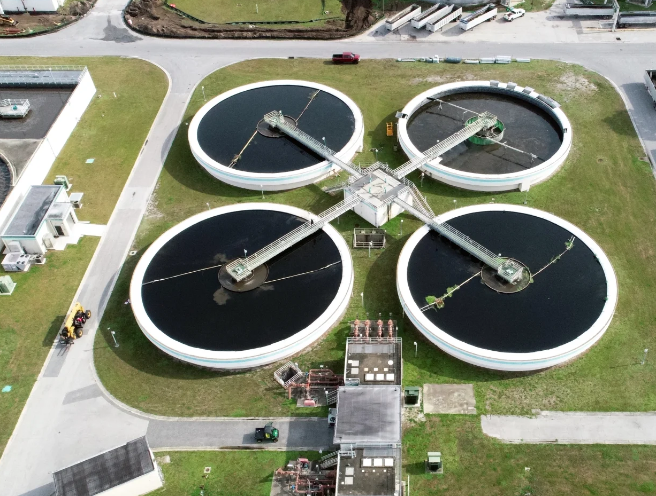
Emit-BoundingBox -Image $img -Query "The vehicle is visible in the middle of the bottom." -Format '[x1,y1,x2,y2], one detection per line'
[254,424,282,442]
